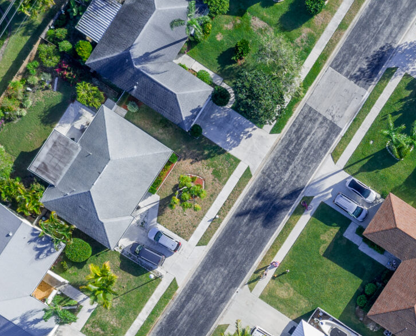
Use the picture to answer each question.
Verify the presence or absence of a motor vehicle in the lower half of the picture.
Yes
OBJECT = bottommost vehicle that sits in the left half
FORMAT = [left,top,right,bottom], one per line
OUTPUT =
[128,240,168,270]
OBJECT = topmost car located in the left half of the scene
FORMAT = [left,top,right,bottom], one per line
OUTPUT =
[146,224,183,254]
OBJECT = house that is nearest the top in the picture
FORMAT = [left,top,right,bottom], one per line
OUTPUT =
[85,0,213,131]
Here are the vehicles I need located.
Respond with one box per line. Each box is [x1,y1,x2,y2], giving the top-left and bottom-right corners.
[248,322,275,336]
[146,224,183,254]
[128,240,168,270]
[343,175,379,206]
[331,190,370,224]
